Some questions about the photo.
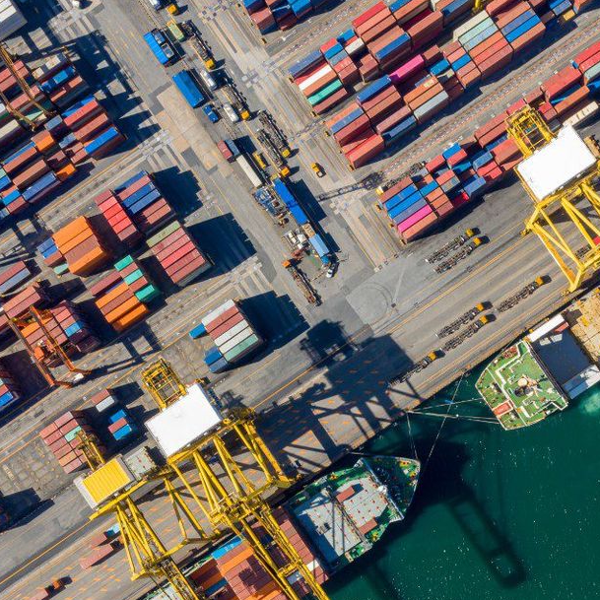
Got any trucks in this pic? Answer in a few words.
Yes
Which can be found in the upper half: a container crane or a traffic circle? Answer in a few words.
container crane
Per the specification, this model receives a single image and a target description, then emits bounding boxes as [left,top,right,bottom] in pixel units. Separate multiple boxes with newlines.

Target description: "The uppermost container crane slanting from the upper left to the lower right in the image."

[0,38,72,149]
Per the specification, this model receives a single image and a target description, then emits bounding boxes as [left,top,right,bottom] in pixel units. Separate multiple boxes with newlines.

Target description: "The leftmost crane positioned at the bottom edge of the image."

[59,415,225,600]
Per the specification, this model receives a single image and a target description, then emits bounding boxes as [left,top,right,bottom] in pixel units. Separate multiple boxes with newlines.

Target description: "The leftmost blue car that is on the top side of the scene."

[202,102,218,125]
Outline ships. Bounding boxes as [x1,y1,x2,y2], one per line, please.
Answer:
[475,286,600,429]
[148,455,421,600]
